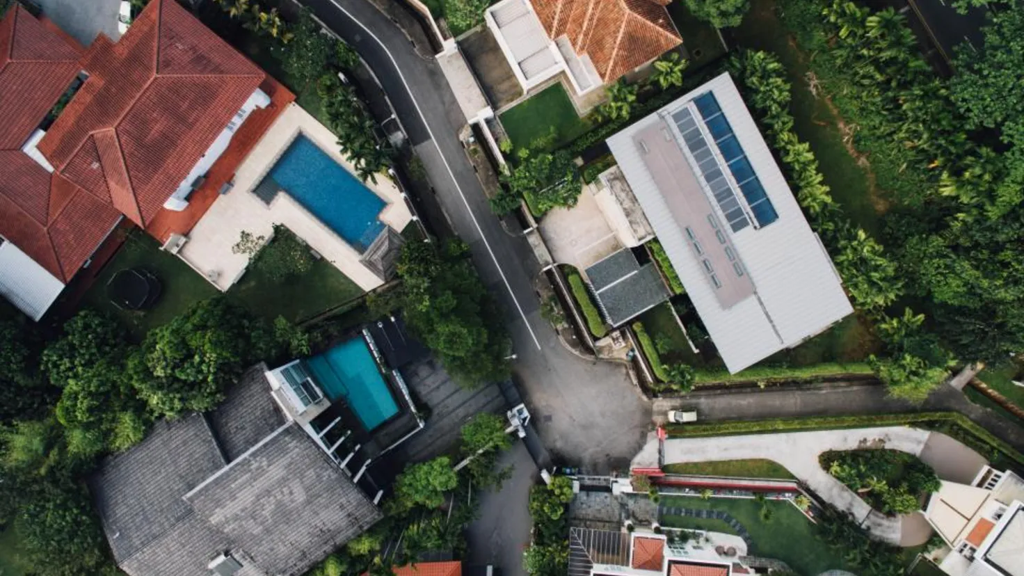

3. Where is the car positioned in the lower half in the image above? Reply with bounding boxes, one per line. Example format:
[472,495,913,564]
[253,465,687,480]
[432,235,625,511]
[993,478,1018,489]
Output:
[667,409,696,423]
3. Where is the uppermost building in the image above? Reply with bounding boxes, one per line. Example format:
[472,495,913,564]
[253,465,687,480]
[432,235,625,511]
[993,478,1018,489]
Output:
[485,0,683,102]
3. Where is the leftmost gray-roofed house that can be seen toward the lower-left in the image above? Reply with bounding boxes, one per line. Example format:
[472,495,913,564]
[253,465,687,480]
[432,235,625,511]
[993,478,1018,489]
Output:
[91,358,388,576]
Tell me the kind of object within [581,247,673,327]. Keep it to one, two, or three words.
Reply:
building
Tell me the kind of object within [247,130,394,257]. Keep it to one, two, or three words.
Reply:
swimming pool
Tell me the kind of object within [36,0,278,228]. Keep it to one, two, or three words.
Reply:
house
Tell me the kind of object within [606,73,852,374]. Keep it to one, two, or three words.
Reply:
house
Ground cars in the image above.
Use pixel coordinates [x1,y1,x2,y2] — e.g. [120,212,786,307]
[667,409,696,423]
[117,0,134,33]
